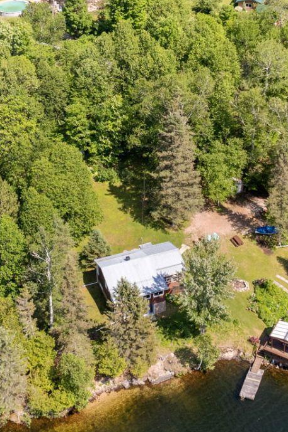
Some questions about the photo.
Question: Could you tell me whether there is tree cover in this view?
Yes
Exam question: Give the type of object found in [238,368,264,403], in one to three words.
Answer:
pier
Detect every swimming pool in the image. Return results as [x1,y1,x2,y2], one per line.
[0,1,26,19]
